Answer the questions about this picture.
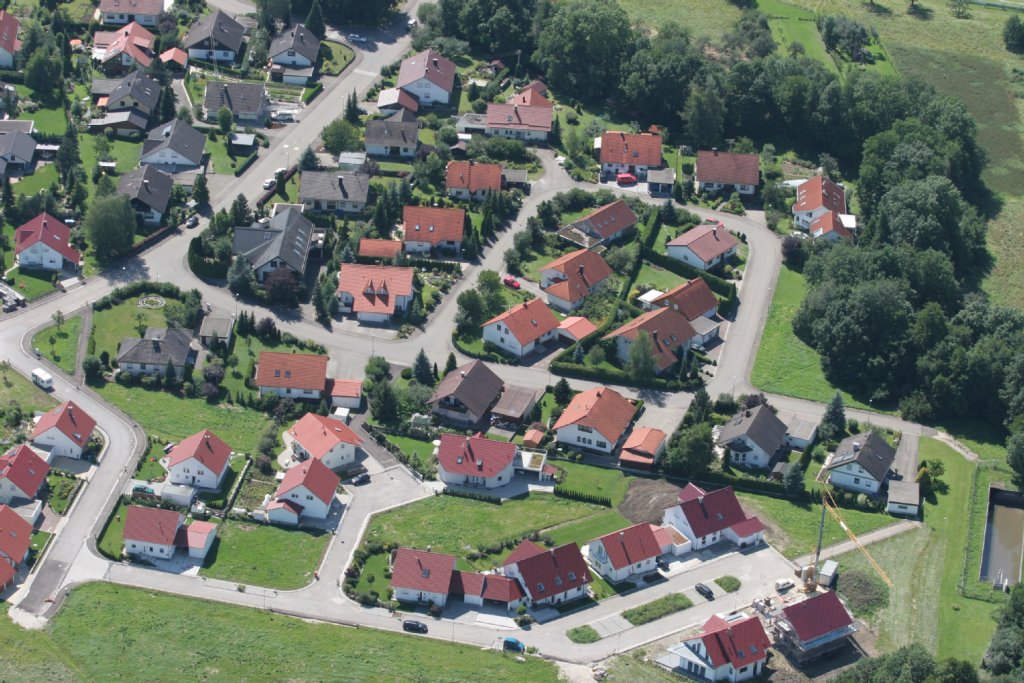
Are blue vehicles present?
Yes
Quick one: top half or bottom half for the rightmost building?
bottom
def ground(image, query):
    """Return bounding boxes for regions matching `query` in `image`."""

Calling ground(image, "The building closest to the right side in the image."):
[888,481,920,516]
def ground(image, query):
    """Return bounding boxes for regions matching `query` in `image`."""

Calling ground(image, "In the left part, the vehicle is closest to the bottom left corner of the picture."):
[130,482,157,496]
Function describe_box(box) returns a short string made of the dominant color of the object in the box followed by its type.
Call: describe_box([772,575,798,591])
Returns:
white vehicle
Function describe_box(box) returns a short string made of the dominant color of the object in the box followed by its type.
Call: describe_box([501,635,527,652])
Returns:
blue vehicle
